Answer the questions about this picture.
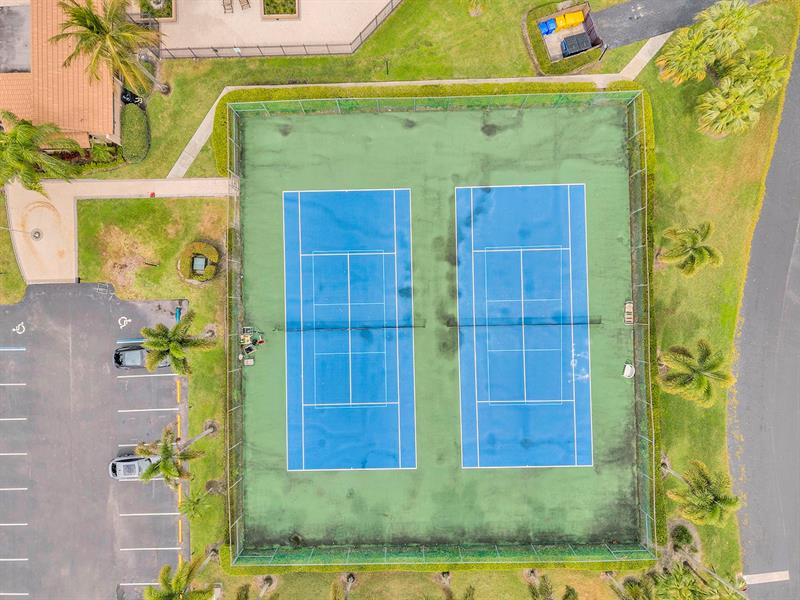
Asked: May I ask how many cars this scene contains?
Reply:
2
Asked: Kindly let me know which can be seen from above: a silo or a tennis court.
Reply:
tennis court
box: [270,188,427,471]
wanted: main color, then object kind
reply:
blue tennis court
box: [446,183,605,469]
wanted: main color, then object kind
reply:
blue tennis court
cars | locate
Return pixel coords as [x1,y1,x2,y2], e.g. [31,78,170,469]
[112,454,162,482]
[115,344,173,371]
